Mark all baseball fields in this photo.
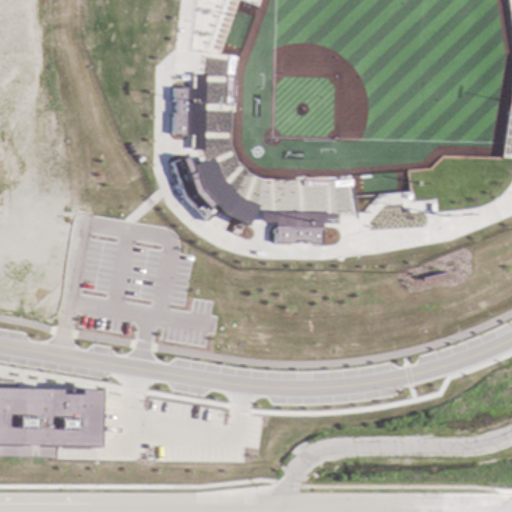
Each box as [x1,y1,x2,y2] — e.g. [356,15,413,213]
[234,0,512,179]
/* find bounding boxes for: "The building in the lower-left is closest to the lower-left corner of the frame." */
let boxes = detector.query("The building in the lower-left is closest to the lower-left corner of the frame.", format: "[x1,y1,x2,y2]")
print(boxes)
[0,388,104,458]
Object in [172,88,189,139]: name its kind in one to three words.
building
